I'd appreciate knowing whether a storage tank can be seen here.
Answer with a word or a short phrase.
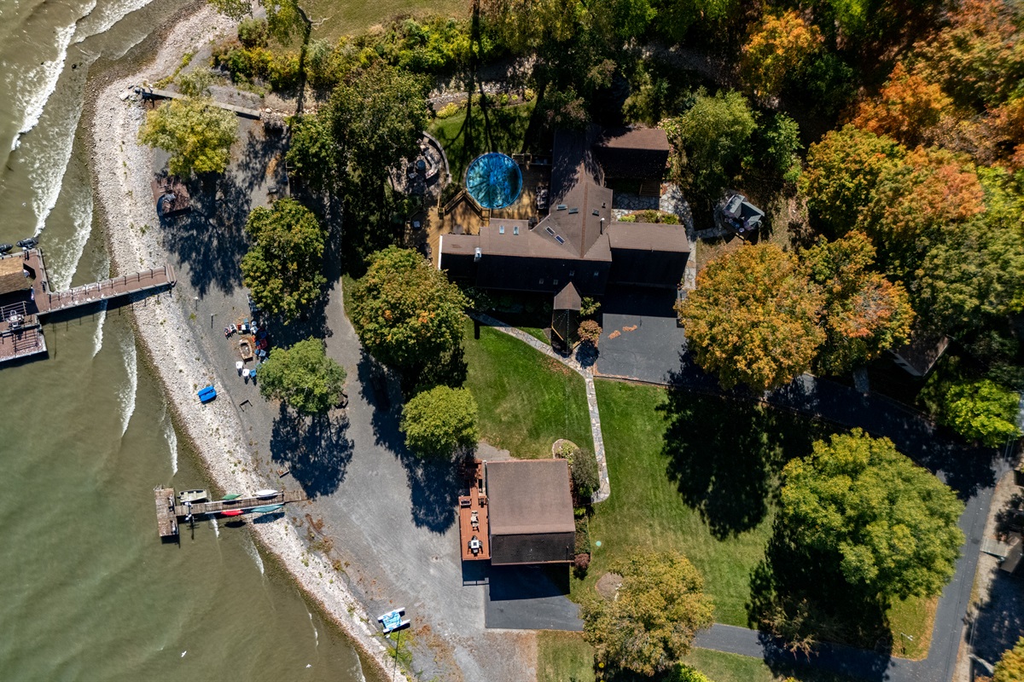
No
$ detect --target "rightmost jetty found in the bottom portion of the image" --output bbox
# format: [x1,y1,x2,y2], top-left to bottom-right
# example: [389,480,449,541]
[154,484,306,536]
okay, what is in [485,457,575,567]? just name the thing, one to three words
building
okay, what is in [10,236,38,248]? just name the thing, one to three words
boat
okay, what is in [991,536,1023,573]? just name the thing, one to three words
shed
